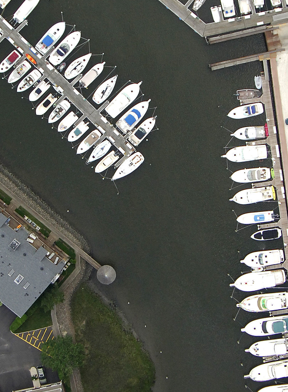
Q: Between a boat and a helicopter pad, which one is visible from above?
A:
boat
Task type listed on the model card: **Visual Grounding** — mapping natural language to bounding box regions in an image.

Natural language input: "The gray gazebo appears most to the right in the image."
[97,265,117,285]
